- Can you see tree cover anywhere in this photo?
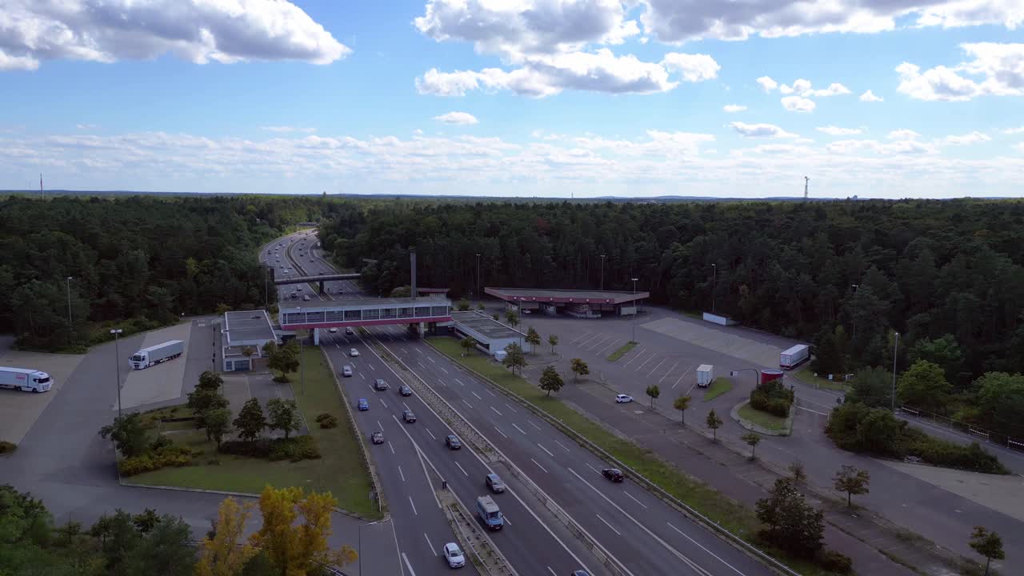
Yes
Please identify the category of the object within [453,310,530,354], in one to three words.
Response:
building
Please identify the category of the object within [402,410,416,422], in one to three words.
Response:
vehicle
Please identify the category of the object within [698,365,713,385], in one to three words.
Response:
vehicle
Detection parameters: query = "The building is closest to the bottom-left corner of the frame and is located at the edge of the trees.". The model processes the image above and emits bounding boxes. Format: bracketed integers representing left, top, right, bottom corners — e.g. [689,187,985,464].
[219,311,278,373]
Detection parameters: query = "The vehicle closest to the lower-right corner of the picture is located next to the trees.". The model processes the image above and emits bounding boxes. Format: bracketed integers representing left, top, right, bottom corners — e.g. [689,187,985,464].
[779,343,815,367]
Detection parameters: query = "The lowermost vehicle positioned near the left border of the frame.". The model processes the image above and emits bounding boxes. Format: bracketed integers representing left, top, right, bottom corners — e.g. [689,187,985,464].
[0,366,54,391]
